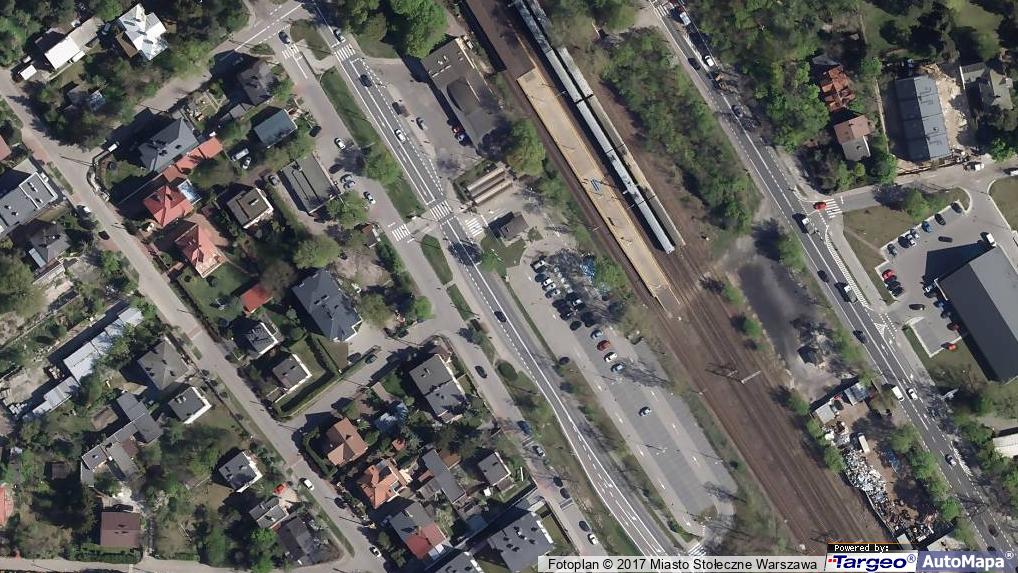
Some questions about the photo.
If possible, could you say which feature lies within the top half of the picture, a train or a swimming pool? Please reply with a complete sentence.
The feature located within the top half of the picture is a train.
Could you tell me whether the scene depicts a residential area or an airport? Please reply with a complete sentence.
This looks like a residential area.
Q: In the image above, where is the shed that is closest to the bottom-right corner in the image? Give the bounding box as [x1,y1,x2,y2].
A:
[928,536,960,567]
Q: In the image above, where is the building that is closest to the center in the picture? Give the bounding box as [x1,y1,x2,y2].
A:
[501,213,531,241]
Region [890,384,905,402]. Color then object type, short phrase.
white vehicle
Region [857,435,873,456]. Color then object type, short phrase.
white vehicle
